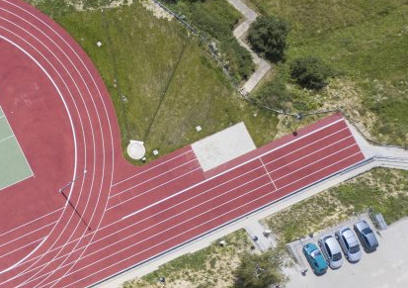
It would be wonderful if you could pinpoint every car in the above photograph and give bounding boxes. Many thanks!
[301,242,329,277]
[317,234,344,268]
[335,227,363,261]
[352,218,381,253]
